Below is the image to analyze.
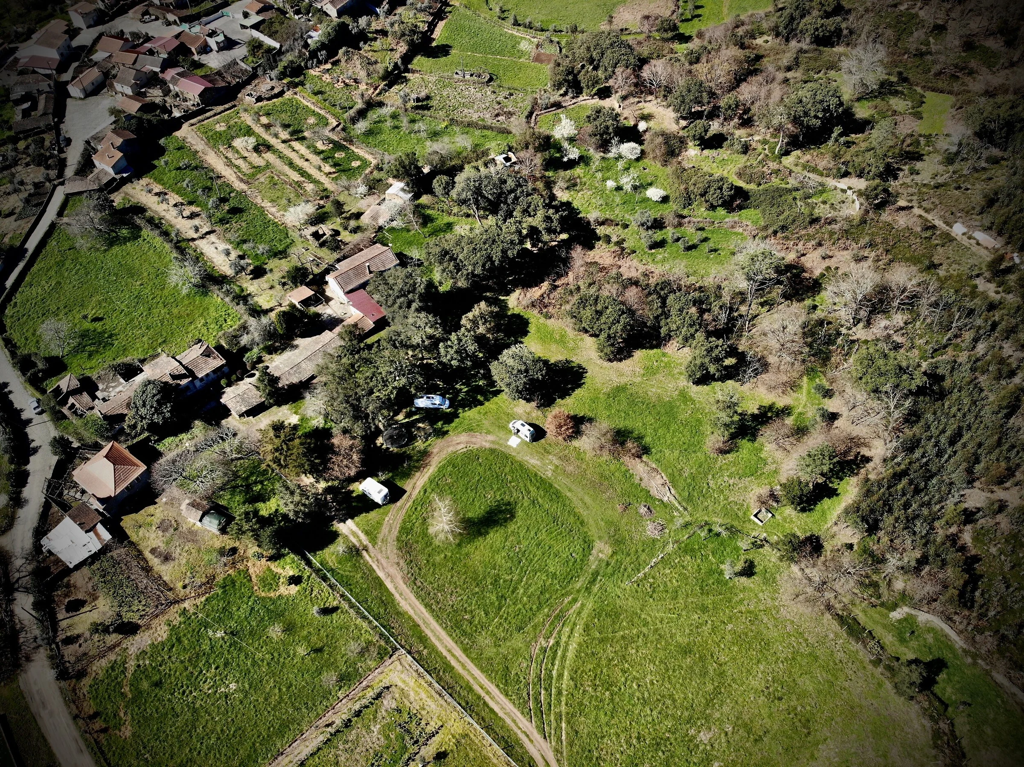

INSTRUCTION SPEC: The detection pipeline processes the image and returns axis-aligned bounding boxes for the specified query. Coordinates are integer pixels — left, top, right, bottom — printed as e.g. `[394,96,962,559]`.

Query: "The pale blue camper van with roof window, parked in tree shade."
[414,395,448,411]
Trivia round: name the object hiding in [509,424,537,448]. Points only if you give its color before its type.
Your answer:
white vehicle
